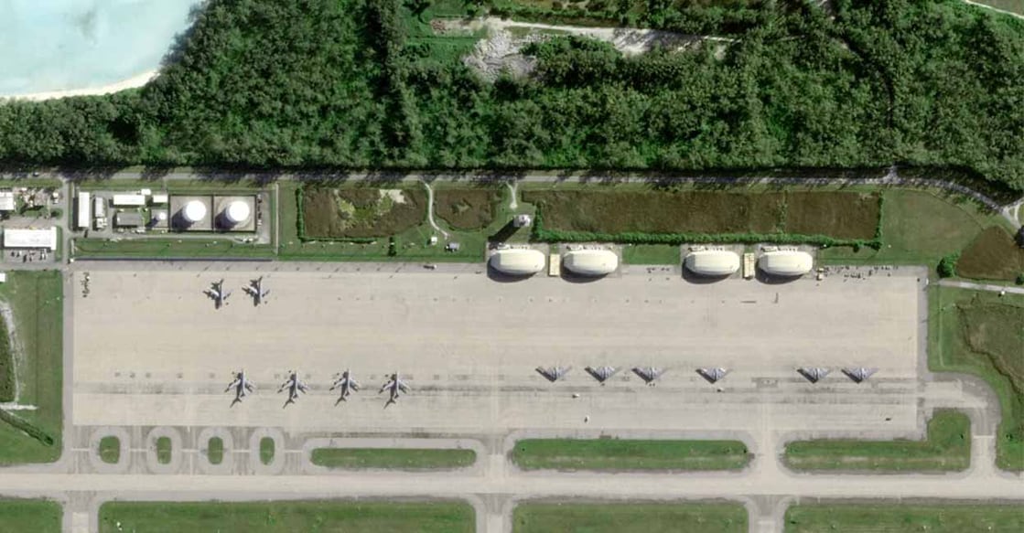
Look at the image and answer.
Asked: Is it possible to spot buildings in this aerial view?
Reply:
Yes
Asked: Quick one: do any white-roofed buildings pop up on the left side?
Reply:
Yes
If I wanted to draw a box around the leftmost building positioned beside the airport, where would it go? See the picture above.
[2,227,58,251]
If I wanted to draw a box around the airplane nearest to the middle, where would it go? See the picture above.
[538,366,572,380]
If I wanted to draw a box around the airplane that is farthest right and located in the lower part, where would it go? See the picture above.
[844,367,876,381]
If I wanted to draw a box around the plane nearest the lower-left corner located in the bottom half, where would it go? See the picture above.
[230,370,257,398]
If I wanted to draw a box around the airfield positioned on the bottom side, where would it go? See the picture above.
[0,243,1024,533]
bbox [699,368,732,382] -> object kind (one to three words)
airplane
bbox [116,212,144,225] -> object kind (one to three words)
building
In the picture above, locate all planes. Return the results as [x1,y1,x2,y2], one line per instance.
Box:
[587,367,620,381]
[538,366,572,380]
[844,367,876,381]
[799,367,832,382]
[283,371,310,399]
[384,372,410,400]
[230,370,257,398]
[247,275,274,304]
[634,367,667,381]
[209,278,235,307]
[699,368,732,382]
[335,369,362,398]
